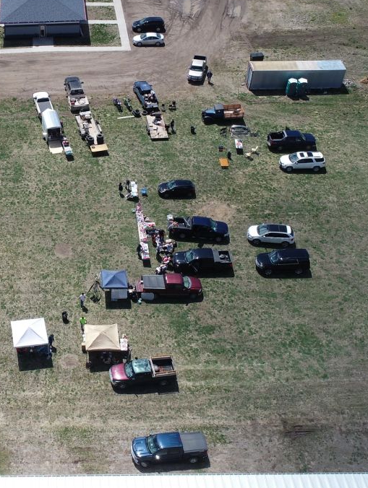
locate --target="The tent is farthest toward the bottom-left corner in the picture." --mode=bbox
[11,318,49,363]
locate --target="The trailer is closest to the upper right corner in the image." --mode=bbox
[246,62,347,89]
